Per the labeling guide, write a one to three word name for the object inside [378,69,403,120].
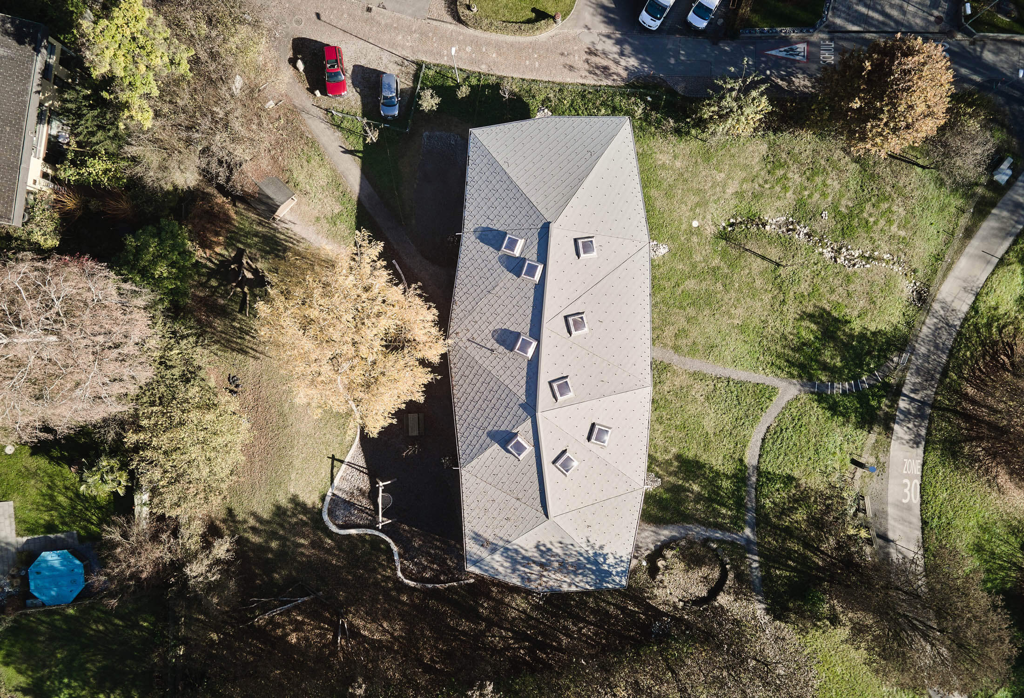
car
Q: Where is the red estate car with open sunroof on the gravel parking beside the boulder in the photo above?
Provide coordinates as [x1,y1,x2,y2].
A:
[323,42,348,97]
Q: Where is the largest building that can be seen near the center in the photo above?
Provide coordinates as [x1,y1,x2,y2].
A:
[446,114,656,600]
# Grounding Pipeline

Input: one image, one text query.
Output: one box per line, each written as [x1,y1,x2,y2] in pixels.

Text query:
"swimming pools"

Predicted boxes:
[29,547,91,606]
